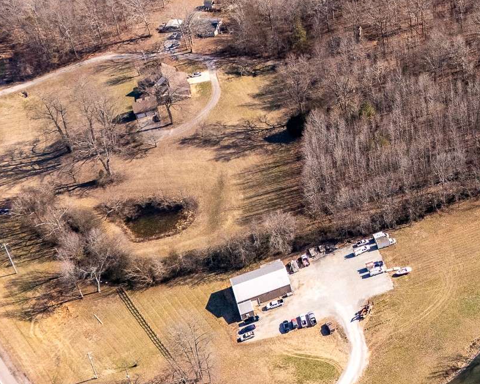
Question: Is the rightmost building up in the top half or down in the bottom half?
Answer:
bottom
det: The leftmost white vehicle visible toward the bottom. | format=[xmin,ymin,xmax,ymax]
[236,329,257,343]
